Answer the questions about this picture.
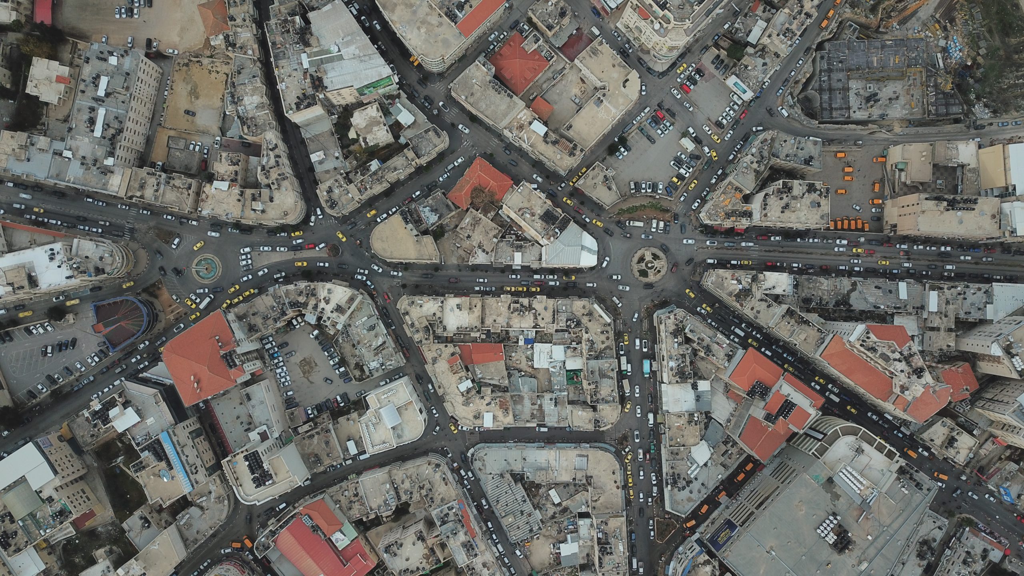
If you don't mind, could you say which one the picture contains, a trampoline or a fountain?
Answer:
fountain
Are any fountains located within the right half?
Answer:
No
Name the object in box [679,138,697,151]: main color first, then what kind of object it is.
white vehicle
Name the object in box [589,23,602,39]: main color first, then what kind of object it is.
white vehicle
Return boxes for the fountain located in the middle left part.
[189,253,222,283]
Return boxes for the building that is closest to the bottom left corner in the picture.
[9,539,62,576]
